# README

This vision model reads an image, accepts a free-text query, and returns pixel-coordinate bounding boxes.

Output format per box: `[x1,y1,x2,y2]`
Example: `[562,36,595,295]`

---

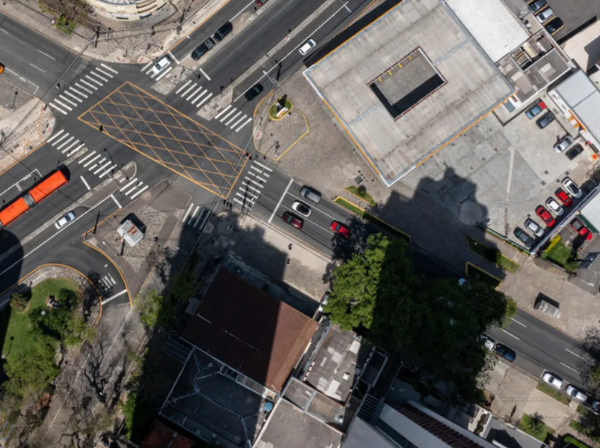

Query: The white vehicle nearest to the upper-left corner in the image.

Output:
[150,54,175,76]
